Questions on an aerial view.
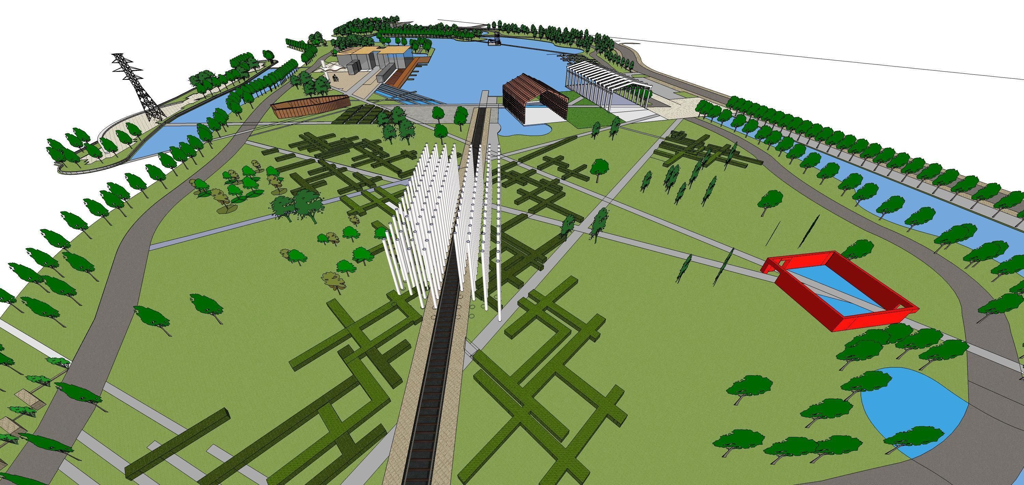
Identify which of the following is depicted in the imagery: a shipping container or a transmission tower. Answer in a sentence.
This aerial view contains a transmission tower.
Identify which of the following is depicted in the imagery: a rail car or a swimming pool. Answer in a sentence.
I can see a swimming pool in this picture.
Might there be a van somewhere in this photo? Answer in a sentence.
No, there's no van here.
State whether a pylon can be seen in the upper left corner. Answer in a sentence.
Yes, a pylon can be seen in the upper left corner.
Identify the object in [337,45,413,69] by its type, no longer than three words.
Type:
building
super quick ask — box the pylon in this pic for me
[110,53,168,121]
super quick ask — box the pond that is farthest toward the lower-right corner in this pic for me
[861,366,970,459]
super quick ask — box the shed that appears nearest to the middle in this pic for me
[502,75,569,125]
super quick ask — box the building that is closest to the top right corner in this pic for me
[565,60,654,111]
